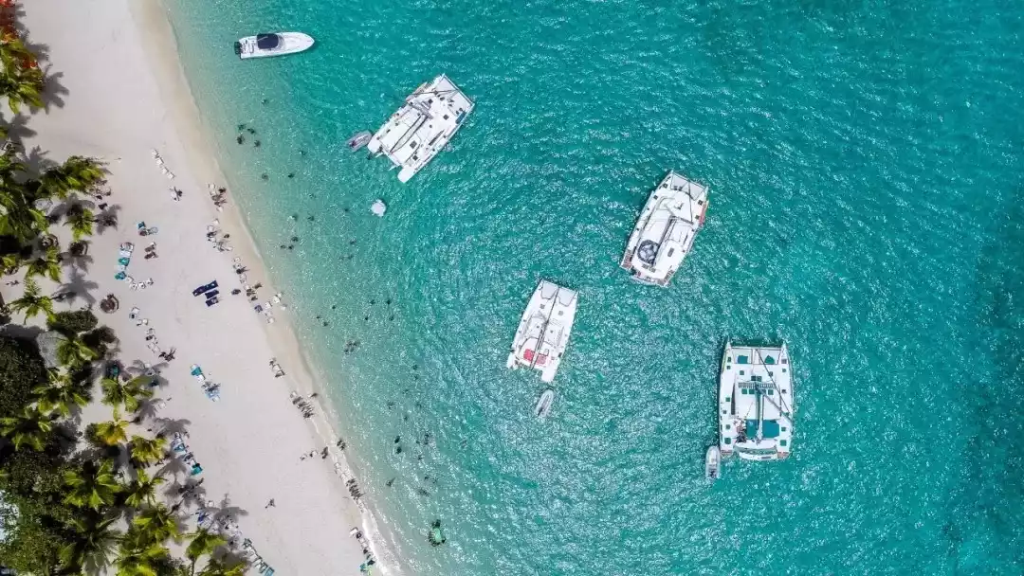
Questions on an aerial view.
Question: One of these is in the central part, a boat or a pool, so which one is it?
boat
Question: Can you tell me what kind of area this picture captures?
beach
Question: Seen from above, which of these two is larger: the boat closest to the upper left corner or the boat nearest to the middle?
the boat nearest to the middle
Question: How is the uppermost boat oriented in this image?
from side to side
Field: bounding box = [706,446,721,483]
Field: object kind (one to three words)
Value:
boat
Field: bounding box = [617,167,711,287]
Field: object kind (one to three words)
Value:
boat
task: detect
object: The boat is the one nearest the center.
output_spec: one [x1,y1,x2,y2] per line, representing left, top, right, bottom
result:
[509,272,577,380]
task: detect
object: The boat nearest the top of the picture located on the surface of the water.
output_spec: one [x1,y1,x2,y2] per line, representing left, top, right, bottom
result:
[233,32,314,59]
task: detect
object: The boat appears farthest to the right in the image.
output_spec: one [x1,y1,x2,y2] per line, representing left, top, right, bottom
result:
[718,327,795,459]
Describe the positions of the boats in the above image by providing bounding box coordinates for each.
[701,201,707,225]
[370,73,474,181]
[509,272,577,380]
[344,130,373,150]
[233,32,314,59]
[534,389,551,420]
[718,327,795,459]
[706,446,721,483]
[617,167,711,287]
